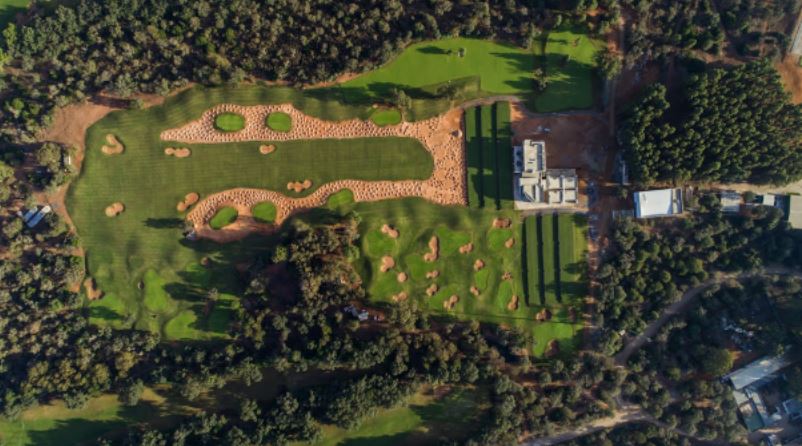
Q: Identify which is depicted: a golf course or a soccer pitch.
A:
golf course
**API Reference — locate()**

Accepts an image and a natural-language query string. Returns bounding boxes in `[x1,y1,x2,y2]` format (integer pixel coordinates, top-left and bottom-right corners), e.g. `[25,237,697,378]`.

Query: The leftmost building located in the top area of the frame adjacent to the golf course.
[512,140,577,204]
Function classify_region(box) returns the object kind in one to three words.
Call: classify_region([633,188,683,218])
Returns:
shed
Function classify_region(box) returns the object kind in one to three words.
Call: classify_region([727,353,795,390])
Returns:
barn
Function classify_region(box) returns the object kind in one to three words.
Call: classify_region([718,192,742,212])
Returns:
house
